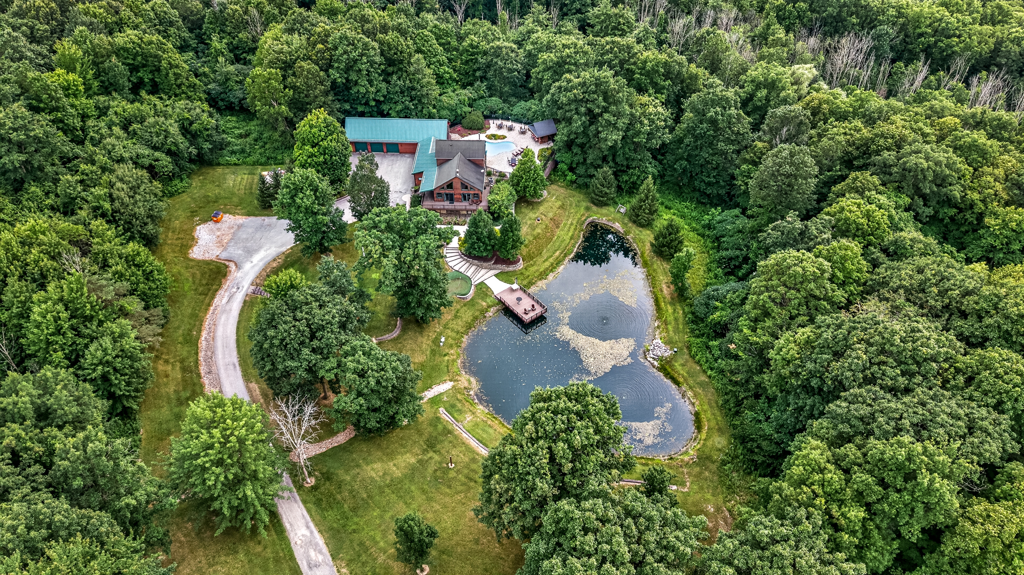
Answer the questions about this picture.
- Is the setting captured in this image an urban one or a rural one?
rural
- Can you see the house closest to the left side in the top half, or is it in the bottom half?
top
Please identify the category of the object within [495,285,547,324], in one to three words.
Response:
pier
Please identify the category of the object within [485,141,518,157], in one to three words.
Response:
swimming pool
